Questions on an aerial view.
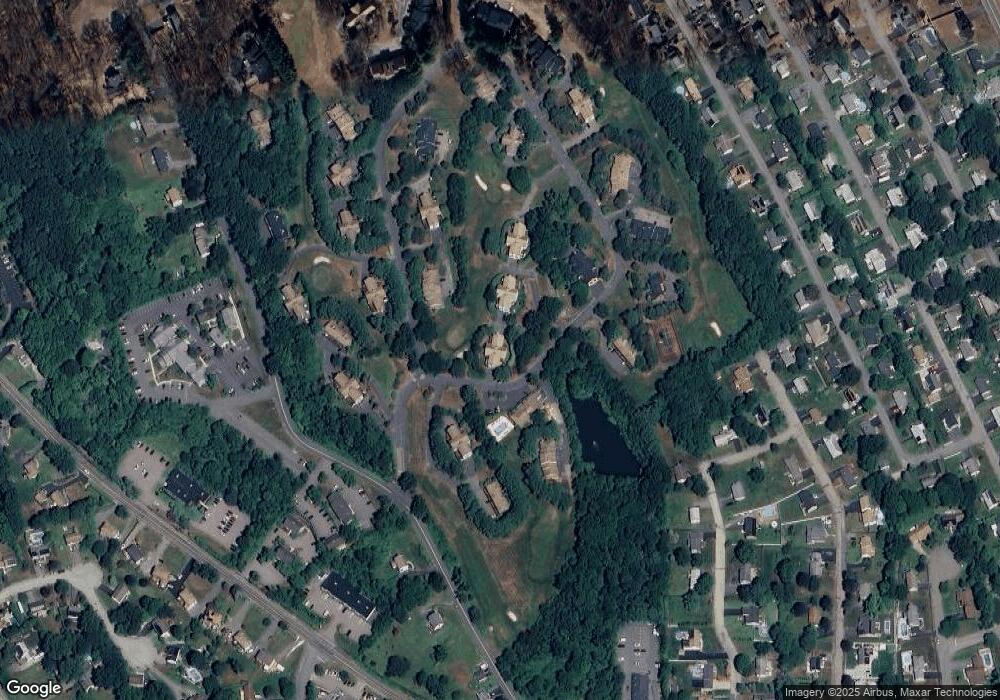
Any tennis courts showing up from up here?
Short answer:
Yes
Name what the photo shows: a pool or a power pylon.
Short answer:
pool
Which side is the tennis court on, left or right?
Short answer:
right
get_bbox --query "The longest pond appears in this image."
[572,398,640,474]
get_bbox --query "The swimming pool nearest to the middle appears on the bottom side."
[487,415,515,441]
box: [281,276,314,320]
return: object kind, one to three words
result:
building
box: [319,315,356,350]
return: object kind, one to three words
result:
building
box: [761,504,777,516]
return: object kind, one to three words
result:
swimming pool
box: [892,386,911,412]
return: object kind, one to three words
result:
house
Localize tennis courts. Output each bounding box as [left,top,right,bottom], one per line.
[647,317,683,362]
